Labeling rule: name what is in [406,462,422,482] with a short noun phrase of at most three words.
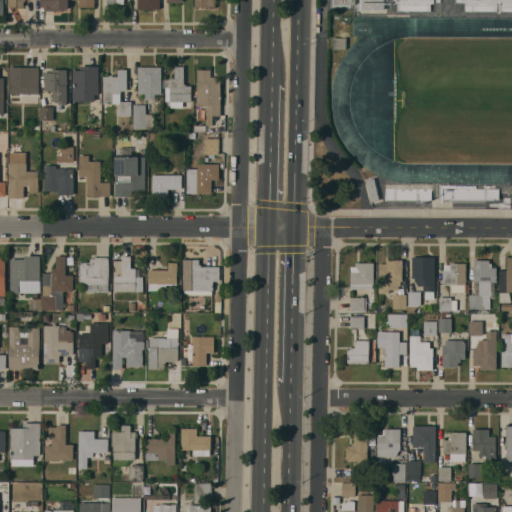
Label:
building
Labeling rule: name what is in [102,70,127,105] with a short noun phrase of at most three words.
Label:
house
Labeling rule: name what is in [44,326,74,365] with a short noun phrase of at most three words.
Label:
house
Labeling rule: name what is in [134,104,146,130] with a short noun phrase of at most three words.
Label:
building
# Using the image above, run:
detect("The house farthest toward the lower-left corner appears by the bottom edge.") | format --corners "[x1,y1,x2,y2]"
[12,484,42,506]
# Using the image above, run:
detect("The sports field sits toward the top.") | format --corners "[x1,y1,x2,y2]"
[394,36,512,164]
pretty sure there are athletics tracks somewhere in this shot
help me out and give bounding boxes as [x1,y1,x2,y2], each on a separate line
[332,18,512,183]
